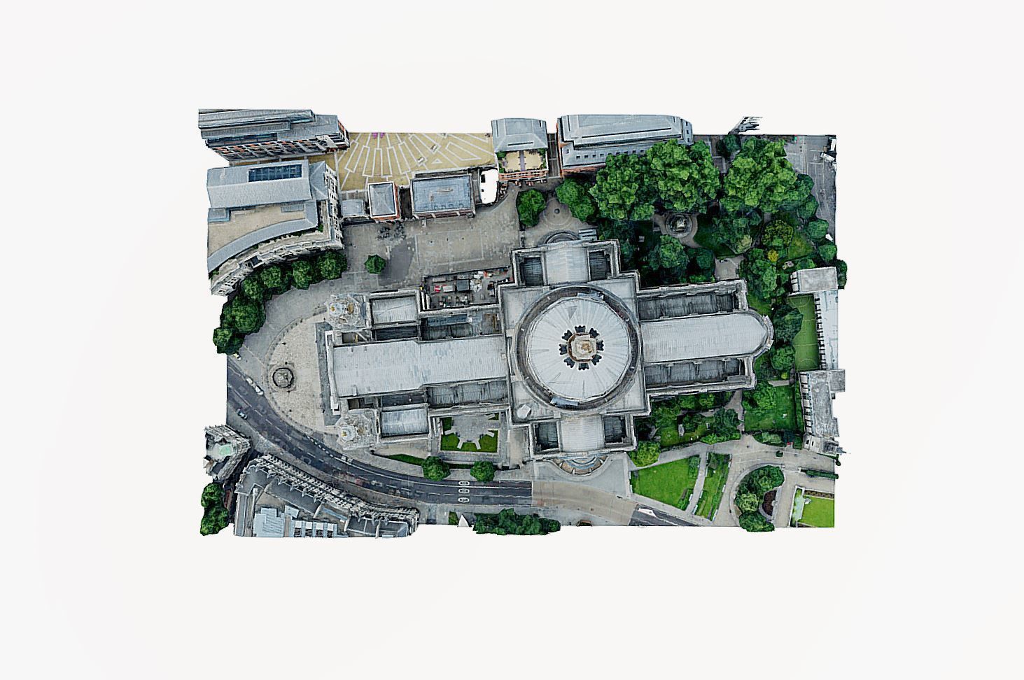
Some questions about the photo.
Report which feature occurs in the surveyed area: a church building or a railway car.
church building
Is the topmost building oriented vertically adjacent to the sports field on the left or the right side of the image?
right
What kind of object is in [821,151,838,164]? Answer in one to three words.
vehicle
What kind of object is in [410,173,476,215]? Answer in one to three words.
building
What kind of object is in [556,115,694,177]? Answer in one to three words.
building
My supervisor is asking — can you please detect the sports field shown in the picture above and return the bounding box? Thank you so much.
[788,292,819,371]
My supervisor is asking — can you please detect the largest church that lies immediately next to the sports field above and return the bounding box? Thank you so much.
[317,222,770,482]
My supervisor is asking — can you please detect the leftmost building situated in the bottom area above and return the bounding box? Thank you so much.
[202,425,250,487]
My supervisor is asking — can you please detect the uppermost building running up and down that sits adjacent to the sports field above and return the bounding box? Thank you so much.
[810,290,839,370]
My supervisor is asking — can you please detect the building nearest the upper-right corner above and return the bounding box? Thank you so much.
[786,267,838,294]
